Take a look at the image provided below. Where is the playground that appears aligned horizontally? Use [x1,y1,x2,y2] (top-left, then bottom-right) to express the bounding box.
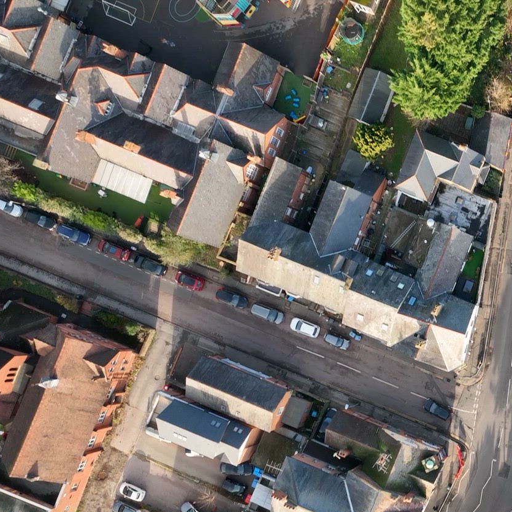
[49,0,341,83]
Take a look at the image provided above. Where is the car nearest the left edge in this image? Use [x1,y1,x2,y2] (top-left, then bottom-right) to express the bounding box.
[0,196,26,220]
